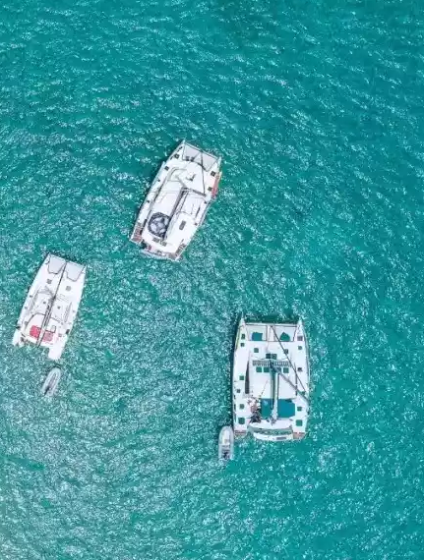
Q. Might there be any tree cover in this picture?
No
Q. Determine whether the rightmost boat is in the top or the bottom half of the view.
bottom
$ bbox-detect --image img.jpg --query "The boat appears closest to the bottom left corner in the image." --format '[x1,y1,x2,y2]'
[40,367,58,399]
